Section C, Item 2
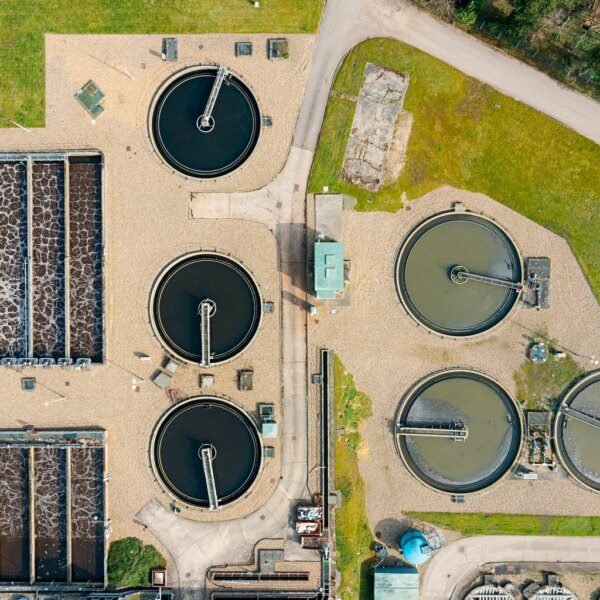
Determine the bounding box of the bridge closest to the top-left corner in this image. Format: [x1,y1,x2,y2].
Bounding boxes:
[200,64,230,124]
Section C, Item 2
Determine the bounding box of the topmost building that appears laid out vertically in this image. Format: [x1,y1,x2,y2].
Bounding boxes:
[314,232,343,298]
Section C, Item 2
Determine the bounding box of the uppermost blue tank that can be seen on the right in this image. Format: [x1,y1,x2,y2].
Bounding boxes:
[398,518,448,564]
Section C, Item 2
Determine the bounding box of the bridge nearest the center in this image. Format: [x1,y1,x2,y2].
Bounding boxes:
[197,304,211,366]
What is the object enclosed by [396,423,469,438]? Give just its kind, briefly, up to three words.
bridge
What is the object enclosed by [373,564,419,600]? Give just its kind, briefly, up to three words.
shed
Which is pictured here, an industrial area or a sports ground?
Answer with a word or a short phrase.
industrial area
